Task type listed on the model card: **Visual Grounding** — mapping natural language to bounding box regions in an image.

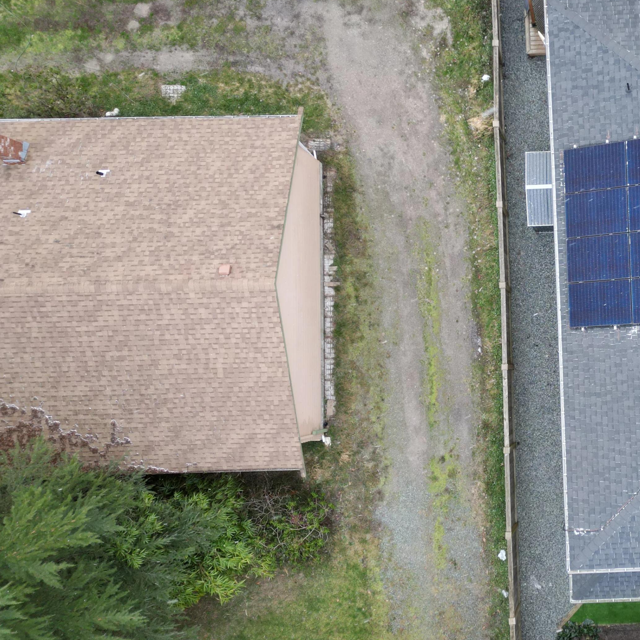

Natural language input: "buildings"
[0,112,331,481]
[542,0,640,605]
